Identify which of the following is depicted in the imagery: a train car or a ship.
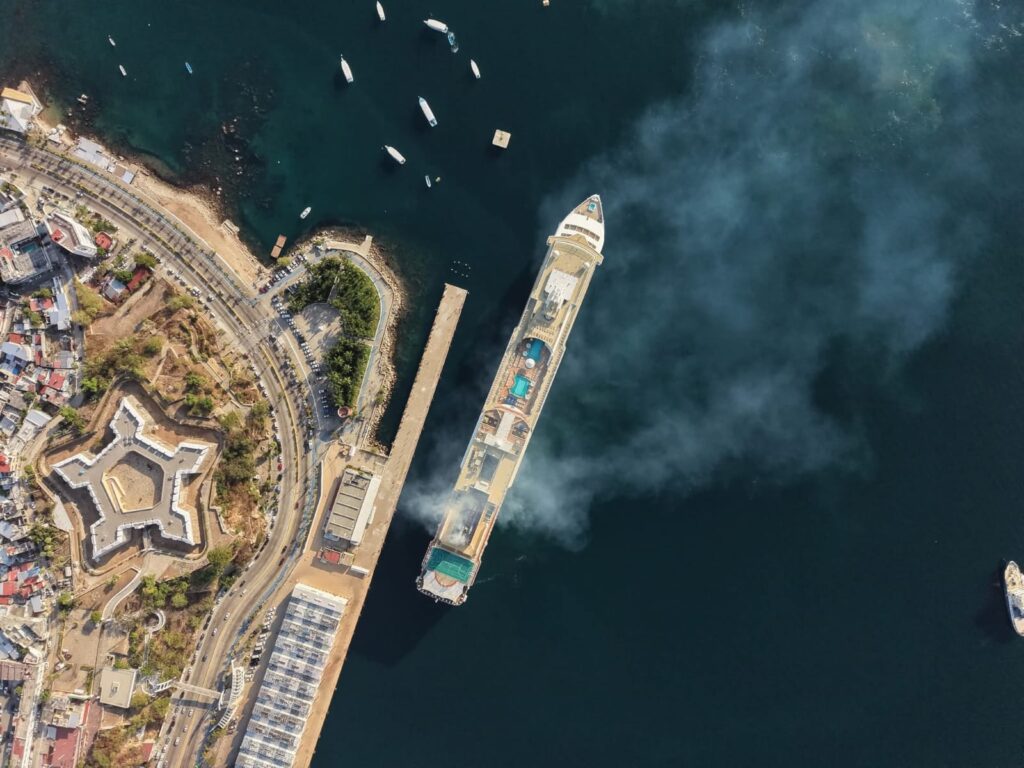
ship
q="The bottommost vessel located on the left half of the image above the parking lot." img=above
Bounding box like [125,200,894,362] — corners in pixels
[270,234,288,258]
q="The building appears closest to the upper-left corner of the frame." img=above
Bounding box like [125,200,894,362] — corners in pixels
[0,80,46,134]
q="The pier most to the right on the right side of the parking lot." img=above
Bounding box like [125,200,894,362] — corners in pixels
[388,284,467,452]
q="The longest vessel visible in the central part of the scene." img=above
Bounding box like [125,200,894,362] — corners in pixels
[417,194,603,603]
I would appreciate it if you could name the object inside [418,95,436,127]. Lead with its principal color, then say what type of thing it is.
white boat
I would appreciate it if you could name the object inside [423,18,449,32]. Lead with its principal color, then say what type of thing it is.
white boat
